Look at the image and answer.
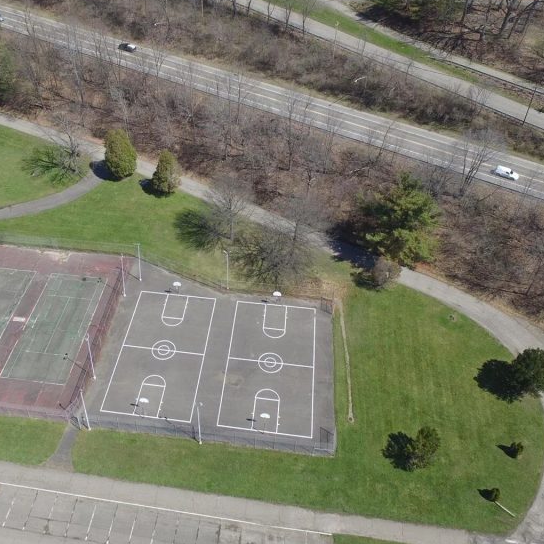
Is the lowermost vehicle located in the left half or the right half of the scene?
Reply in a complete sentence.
The lowermost vehicle is on the right side of the image.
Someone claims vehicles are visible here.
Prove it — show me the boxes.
[492,162,521,182]
[118,43,137,52]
